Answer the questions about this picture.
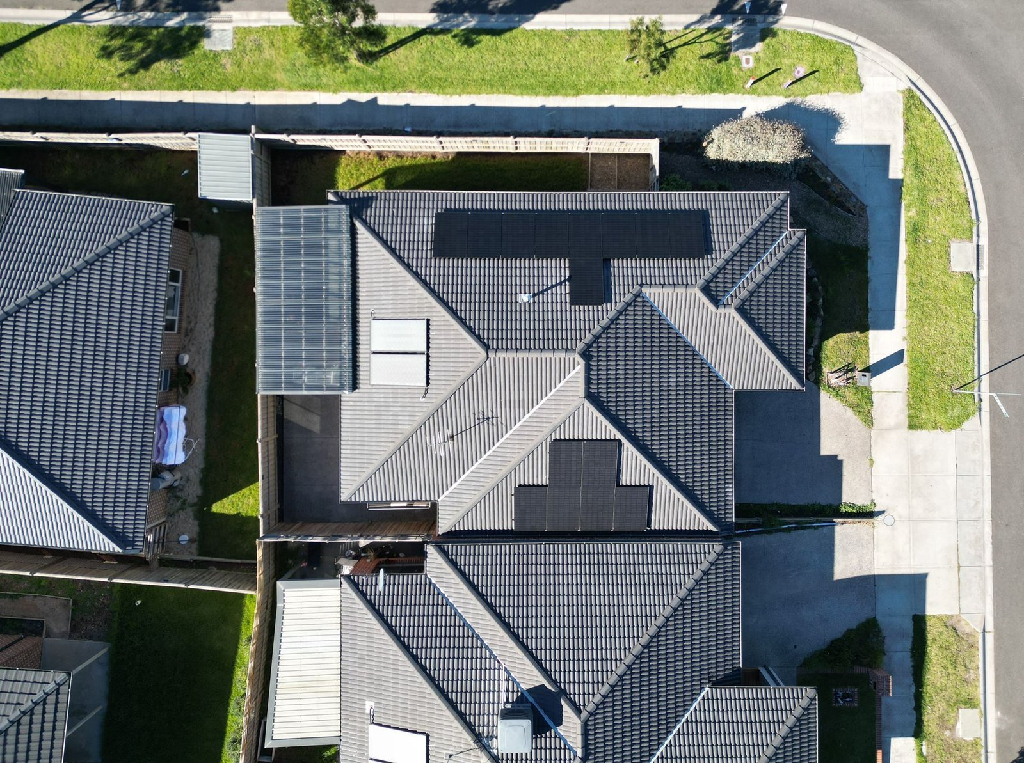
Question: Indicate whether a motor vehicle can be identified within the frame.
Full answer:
No, no motor vehicle is visible in the view.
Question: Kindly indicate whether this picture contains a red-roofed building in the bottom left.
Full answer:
No, I can find no red-roofed building in the bottom left.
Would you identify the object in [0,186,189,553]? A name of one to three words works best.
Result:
house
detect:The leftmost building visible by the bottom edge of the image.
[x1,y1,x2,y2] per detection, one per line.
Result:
[0,644,108,763]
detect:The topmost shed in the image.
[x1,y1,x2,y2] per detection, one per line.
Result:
[197,132,256,212]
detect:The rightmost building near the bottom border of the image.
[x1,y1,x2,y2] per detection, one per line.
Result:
[337,538,820,763]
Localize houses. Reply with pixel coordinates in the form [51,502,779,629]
[326,188,808,535]
[337,538,820,763]
[0,186,189,553]
[0,644,108,763]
